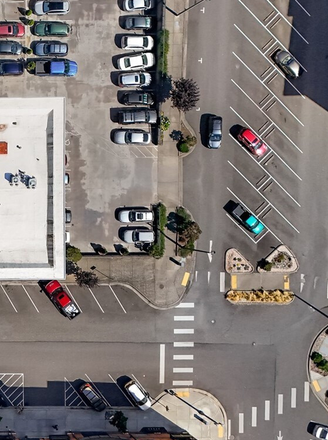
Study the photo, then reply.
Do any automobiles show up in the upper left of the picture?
Yes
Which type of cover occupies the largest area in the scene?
paved ground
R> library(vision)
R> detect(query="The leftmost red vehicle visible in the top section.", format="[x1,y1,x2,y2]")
[0,21,25,38]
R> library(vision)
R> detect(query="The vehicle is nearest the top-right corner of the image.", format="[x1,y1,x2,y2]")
[269,48,302,79]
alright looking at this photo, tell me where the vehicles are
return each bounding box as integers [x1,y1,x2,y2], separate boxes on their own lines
[33,0,69,16]
[122,90,154,106]
[309,424,328,440]
[116,208,153,224]
[117,108,158,125]
[0,61,23,77]
[0,21,25,38]
[227,200,263,237]
[120,14,152,31]
[76,378,107,412]
[122,375,151,409]
[205,114,223,148]
[112,129,150,145]
[121,227,156,244]
[120,34,153,51]
[66,209,72,224]
[236,126,268,159]
[45,280,77,320]
[33,20,69,37]
[32,40,68,56]
[120,0,154,13]
[0,39,22,56]
[66,231,71,244]
[117,72,151,87]
[115,53,153,70]
[34,59,75,76]
[269,48,302,79]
